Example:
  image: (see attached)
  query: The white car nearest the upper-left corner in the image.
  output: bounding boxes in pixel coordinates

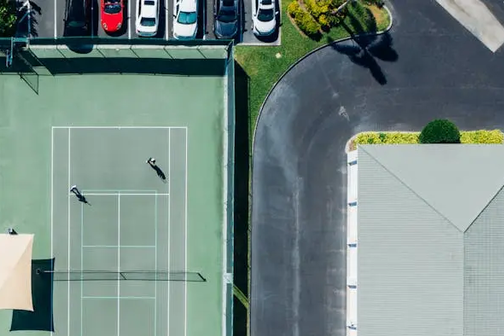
[135,0,159,38]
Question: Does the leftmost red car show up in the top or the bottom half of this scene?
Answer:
top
